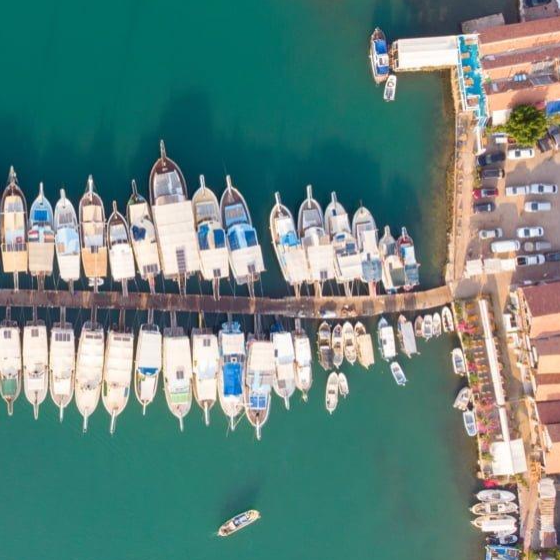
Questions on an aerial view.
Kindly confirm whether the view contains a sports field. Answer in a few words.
No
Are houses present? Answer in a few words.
Yes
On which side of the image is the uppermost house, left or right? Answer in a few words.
right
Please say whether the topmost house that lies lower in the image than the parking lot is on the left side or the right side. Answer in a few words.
right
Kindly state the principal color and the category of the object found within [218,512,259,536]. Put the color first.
white boat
